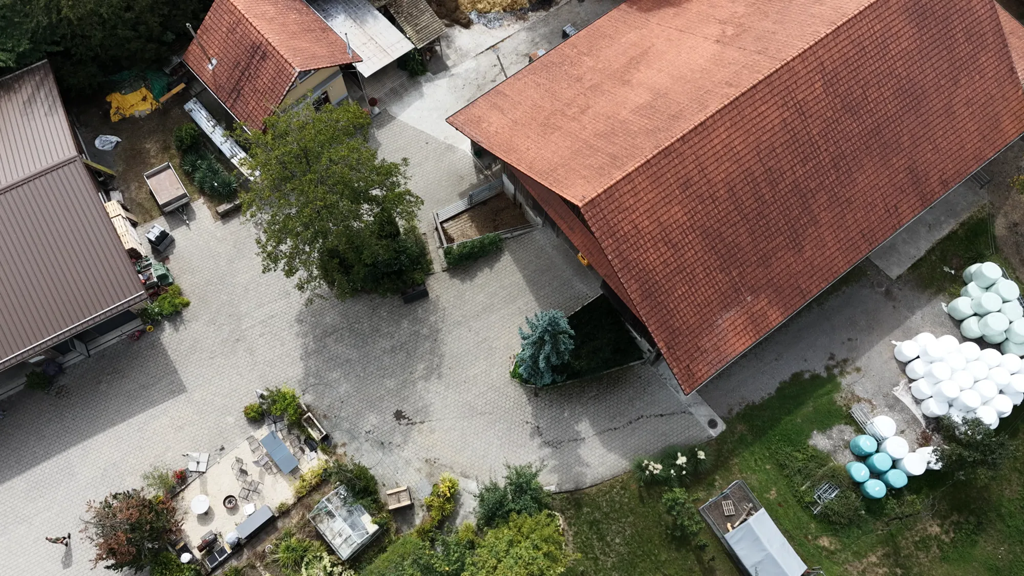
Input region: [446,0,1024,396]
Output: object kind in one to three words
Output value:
barn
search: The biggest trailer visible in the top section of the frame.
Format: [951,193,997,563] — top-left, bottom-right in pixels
[151,159,197,229]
